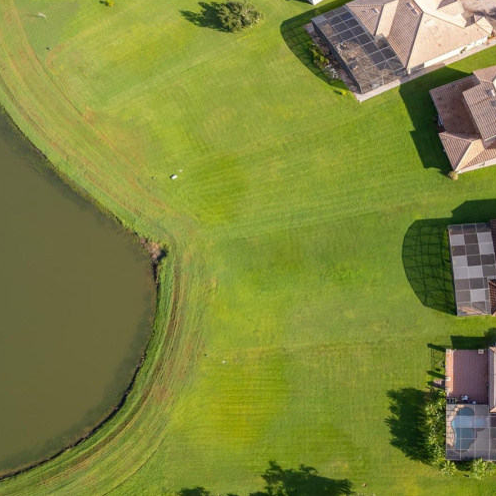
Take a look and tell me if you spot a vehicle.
No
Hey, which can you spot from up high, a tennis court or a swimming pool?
swimming pool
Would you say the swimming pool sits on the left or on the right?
right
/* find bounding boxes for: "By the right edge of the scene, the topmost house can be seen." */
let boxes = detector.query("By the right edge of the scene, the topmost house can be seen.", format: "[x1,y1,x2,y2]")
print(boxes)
[346,0,493,76]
